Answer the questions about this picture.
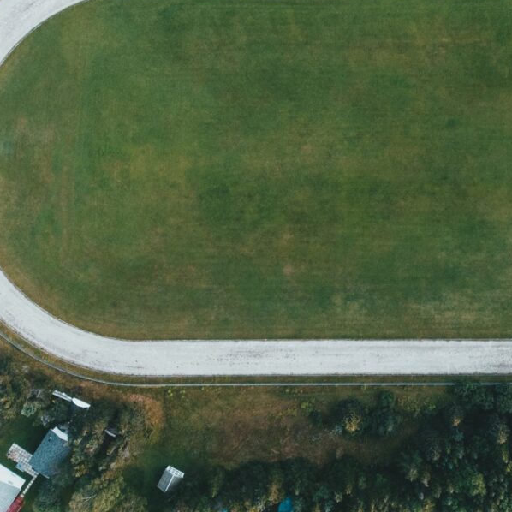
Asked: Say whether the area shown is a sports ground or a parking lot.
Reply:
sports ground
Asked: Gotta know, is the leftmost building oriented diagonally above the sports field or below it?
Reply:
below it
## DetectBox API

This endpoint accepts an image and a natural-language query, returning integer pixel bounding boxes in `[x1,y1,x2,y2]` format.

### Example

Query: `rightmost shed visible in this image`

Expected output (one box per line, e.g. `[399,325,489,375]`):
[158,466,184,495]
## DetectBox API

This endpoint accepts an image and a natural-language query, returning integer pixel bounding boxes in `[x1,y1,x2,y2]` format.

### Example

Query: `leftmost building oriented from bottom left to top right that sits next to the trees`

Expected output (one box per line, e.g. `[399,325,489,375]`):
[29,427,72,477]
